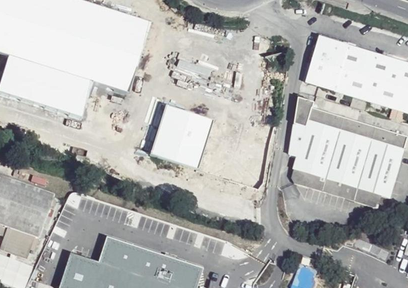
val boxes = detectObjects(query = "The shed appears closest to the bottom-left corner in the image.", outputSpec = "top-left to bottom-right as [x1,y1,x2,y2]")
[0,256,33,288]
